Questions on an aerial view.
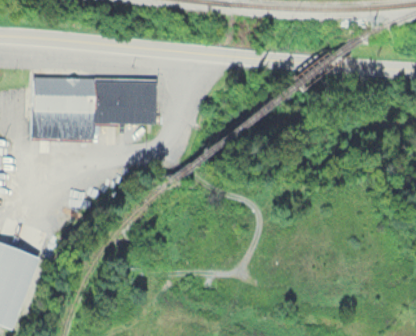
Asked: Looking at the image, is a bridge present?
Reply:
Yes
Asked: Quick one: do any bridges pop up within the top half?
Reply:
Yes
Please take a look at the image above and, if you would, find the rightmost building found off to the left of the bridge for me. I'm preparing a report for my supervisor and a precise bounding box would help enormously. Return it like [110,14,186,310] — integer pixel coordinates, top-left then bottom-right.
[94,78,160,126]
